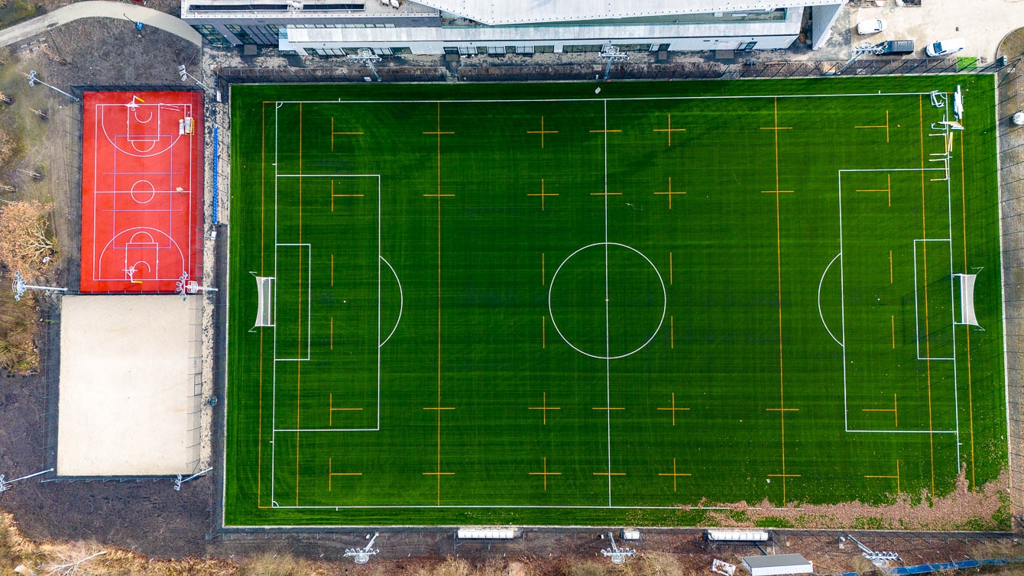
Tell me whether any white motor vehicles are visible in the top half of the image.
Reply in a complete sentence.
Yes, a white motor vehicle can be seen in the top half of the image.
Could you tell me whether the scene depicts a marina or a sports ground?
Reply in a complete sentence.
What you see here is a sports ground.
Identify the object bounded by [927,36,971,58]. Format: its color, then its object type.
white vehicle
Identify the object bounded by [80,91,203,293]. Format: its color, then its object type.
red basketball court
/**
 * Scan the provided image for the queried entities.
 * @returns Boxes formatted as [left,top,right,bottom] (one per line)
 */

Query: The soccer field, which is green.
[221,71,1016,536]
